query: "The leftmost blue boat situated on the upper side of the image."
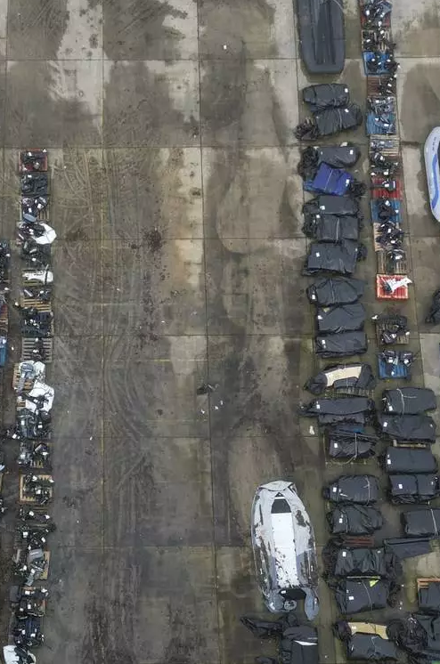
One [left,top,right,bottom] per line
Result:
[306,162,370,196]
